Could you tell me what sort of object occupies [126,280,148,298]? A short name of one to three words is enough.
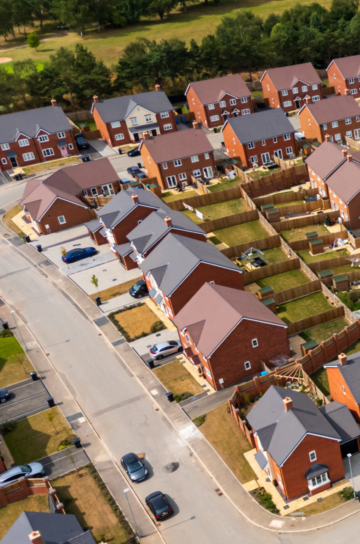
car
